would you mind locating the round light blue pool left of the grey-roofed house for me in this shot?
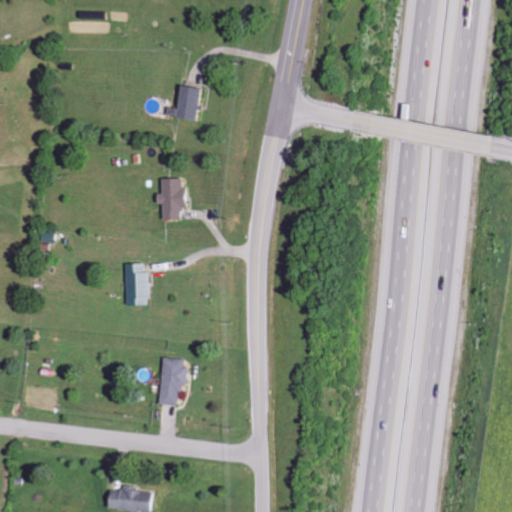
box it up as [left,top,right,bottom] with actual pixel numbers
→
[136,366,152,384]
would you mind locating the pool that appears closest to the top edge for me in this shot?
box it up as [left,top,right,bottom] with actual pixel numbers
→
[144,98,161,115]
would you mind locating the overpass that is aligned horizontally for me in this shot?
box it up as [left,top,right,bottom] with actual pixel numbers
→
[358,111,494,158]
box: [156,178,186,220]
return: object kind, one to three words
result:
house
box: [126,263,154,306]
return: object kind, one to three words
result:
house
